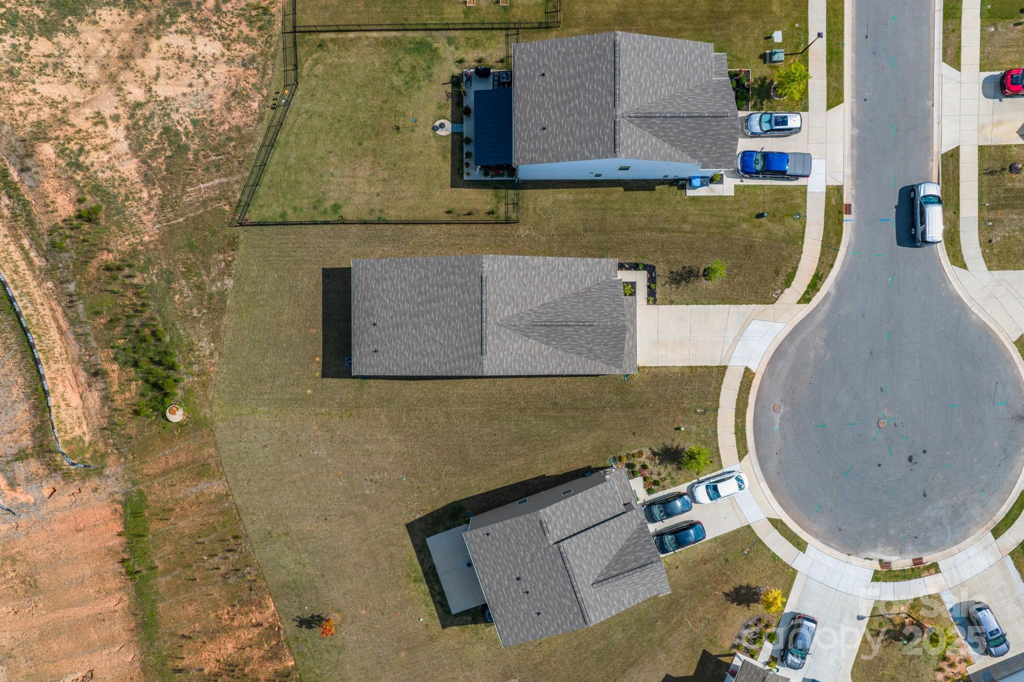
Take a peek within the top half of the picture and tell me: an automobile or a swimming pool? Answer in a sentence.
Looking within the top half of the picture, you will find an automobile.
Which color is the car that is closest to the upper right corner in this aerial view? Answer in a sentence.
From above, the car that is closest to the upper right corner appears red.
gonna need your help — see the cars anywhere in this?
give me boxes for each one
[639,489,697,525]
[909,182,946,247]
[652,518,710,554]
[691,470,751,504]
[998,69,1024,96]
[742,107,801,137]
[781,614,820,672]
[968,603,1016,660]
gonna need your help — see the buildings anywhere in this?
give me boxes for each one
[461,463,671,649]
[511,33,739,180]
[996,670,1024,682]
[351,255,637,377]
[722,649,795,682]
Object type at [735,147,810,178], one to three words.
truck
